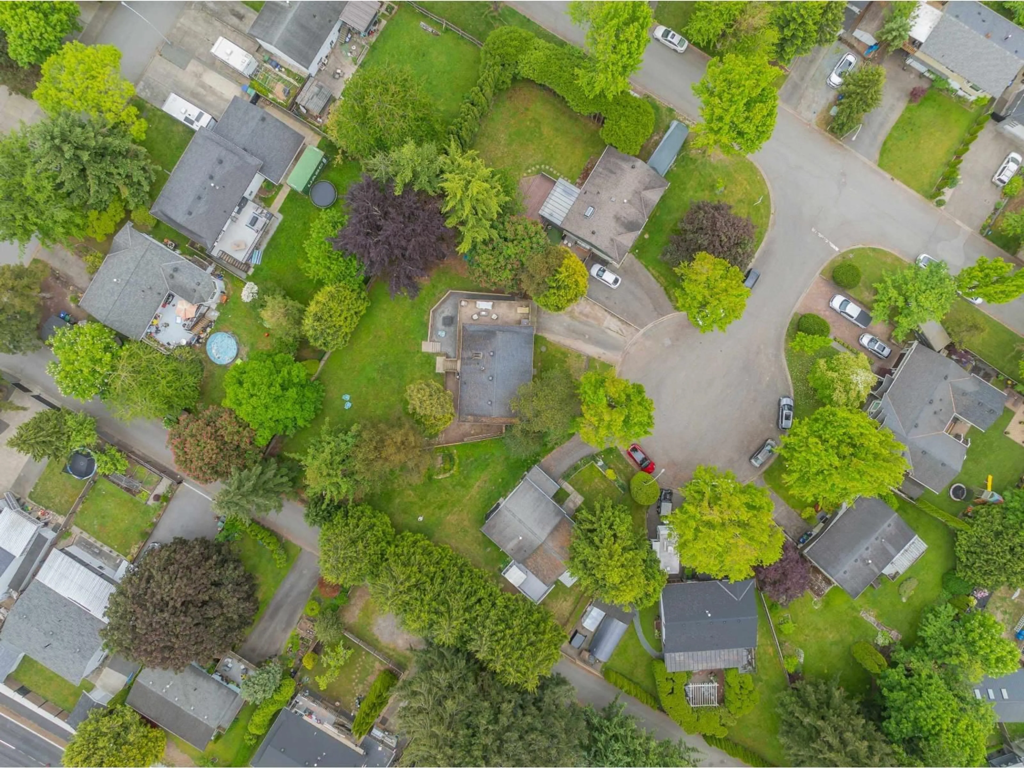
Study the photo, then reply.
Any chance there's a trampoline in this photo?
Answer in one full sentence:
Yes, I can see a trampoline in this picture.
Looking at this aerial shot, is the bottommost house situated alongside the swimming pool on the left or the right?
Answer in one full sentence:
The bottommost house situated alongside the swimming pool appears in the left half of the scene.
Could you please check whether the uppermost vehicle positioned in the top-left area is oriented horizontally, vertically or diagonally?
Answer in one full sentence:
Seen from above, the uppermost vehicle positioned in the top-left area lies diagonally.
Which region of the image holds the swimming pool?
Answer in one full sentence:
The swimming pool is in the left part of the image.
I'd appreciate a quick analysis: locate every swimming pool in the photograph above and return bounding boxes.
[206,332,241,365]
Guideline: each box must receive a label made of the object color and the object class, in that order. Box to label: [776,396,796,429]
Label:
gray car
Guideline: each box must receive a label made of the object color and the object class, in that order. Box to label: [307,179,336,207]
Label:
gray trampoline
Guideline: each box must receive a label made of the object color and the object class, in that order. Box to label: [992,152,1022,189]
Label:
white car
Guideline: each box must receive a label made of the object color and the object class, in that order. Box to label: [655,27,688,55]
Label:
white car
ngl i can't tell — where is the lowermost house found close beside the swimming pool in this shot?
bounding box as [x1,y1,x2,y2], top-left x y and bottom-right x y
[78,224,231,348]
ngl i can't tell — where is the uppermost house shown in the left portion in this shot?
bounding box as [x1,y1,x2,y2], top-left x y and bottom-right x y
[247,0,369,82]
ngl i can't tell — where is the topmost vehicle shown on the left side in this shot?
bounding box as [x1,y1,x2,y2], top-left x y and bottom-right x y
[210,36,262,80]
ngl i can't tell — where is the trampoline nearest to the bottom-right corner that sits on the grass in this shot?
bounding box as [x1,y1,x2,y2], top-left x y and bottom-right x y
[950,484,980,505]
